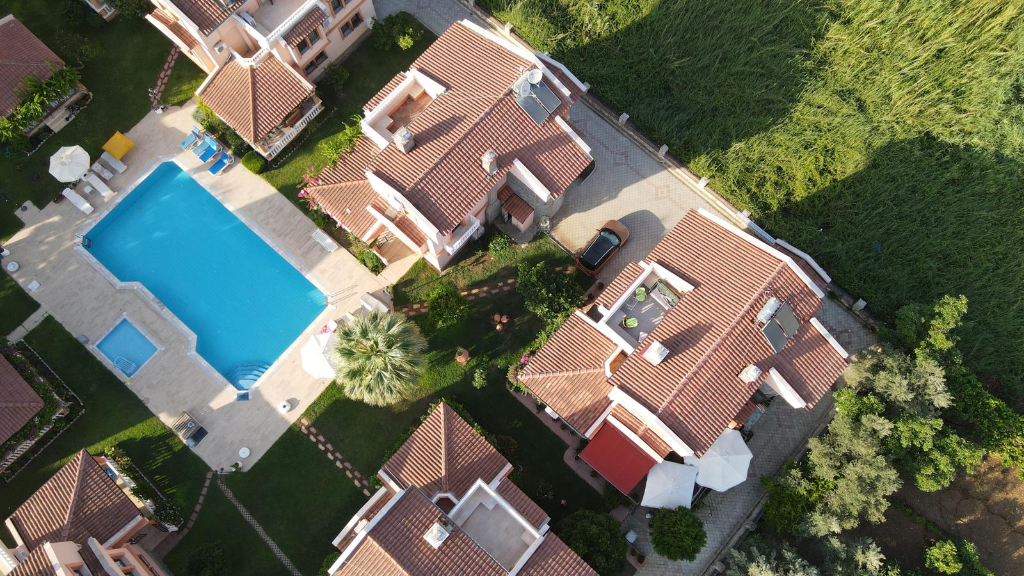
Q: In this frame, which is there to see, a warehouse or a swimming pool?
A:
swimming pool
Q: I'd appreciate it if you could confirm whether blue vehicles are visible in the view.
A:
No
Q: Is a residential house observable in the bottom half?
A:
Yes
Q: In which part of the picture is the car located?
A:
center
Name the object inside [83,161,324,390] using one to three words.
swimming pool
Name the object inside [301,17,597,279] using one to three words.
house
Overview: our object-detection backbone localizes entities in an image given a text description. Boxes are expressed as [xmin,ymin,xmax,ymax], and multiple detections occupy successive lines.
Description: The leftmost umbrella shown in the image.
[51,147,94,186]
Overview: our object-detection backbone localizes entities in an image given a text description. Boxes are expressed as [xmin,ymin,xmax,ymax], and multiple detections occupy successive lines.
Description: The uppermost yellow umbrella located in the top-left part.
[103,132,143,165]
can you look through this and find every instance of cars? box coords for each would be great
[571,217,636,275]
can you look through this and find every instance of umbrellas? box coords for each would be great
[642,467,694,510]
[103,132,143,165]
[681,424,758,498]
[301,332,348,378]
[51,147,94,186]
